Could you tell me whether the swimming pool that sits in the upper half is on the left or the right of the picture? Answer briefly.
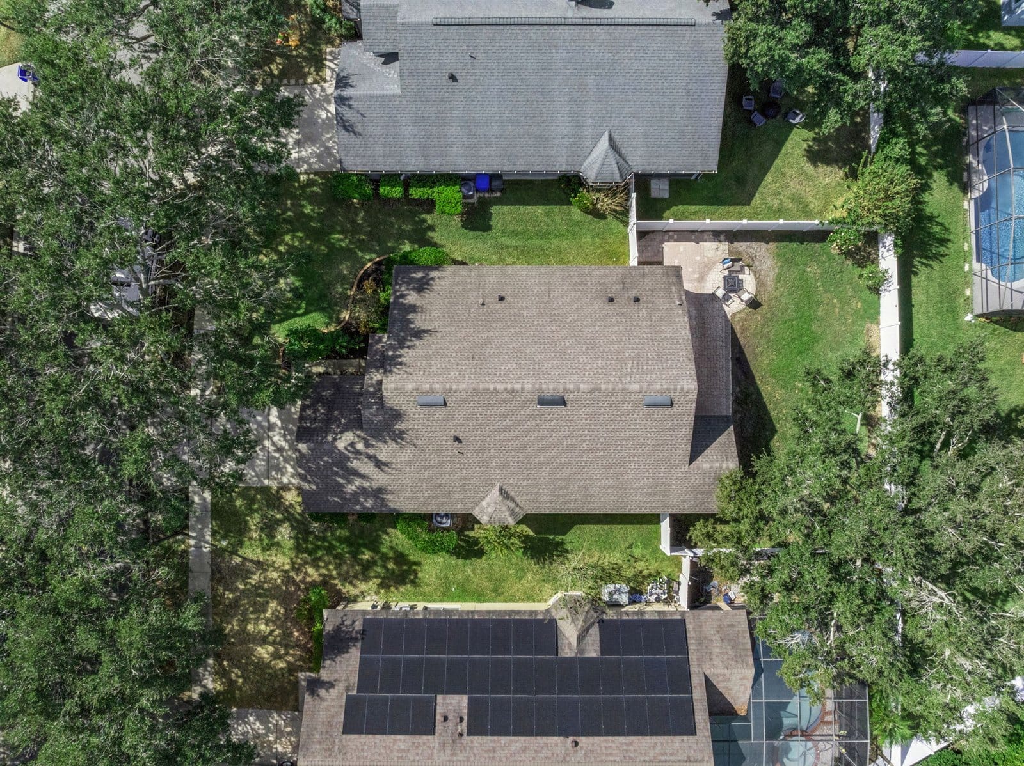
right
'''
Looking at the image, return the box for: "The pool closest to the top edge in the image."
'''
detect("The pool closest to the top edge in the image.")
[973,124,1024,285]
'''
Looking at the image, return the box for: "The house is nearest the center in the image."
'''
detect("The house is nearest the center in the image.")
[295,267,739,525]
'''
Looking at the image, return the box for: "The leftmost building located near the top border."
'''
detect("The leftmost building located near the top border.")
[335,0,732,192]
